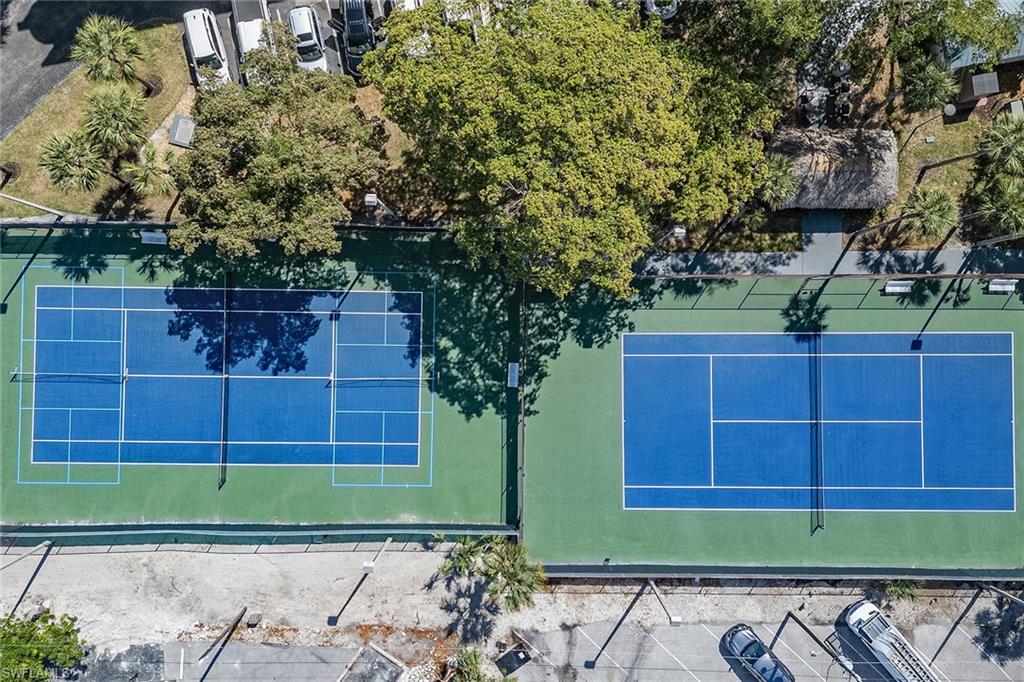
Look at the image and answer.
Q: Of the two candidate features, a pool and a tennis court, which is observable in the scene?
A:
tennis court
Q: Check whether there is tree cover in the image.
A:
Yes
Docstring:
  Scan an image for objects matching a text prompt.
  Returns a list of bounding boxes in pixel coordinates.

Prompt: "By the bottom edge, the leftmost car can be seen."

[723,622,789,682]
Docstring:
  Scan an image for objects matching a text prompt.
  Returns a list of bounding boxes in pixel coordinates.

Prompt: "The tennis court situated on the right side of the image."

[524,279,1024,566]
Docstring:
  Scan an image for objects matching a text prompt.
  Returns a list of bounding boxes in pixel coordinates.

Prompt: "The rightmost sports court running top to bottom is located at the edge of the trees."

[333,270,436,487]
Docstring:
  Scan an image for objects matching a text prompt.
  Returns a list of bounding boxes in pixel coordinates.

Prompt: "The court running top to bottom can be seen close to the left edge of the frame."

[17,265,124,485]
